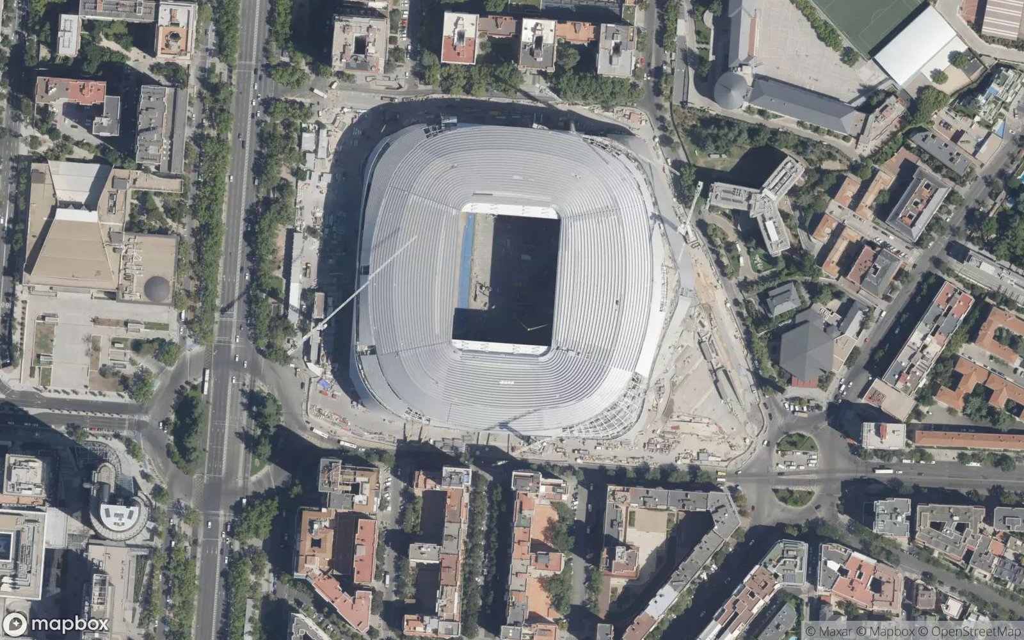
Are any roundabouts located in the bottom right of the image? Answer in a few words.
Yes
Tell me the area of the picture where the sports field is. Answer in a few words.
top right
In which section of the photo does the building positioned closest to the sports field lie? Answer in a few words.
top right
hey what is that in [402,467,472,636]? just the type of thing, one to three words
building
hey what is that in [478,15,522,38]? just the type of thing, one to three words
building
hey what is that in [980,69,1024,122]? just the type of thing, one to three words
house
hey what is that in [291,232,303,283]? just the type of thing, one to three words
shed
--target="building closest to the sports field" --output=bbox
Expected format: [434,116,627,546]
[872,6,956,86]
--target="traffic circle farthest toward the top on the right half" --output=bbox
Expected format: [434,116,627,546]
[771,432,819,508]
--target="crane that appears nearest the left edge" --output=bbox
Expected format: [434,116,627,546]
[287,235,417,354]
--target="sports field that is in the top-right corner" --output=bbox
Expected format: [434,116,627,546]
[812,0,930,58]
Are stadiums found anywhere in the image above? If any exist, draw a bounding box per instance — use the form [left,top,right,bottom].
[351,117,665,442]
